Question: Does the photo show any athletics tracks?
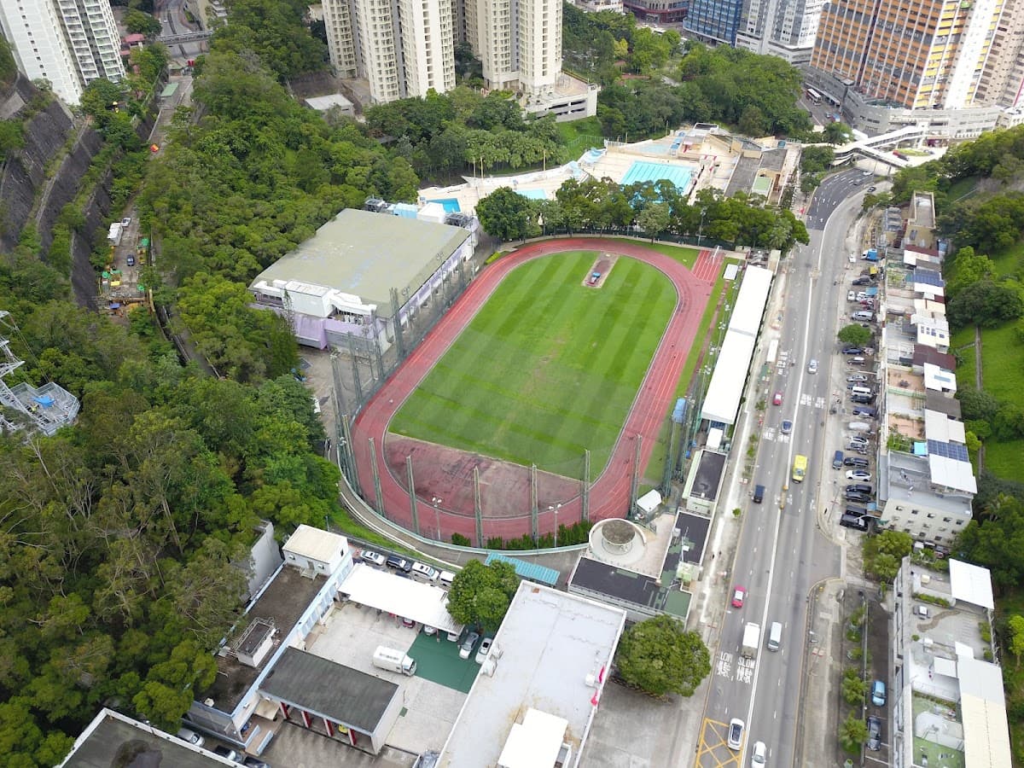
Yes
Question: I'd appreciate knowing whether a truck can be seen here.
Yes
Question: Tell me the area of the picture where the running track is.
center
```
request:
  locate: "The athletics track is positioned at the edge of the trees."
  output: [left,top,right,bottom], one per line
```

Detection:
[350,240,724,546]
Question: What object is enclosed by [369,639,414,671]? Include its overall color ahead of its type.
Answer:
white truck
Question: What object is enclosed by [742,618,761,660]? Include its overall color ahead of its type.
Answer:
white vehicle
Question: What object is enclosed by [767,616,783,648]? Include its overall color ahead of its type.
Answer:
white vehicle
